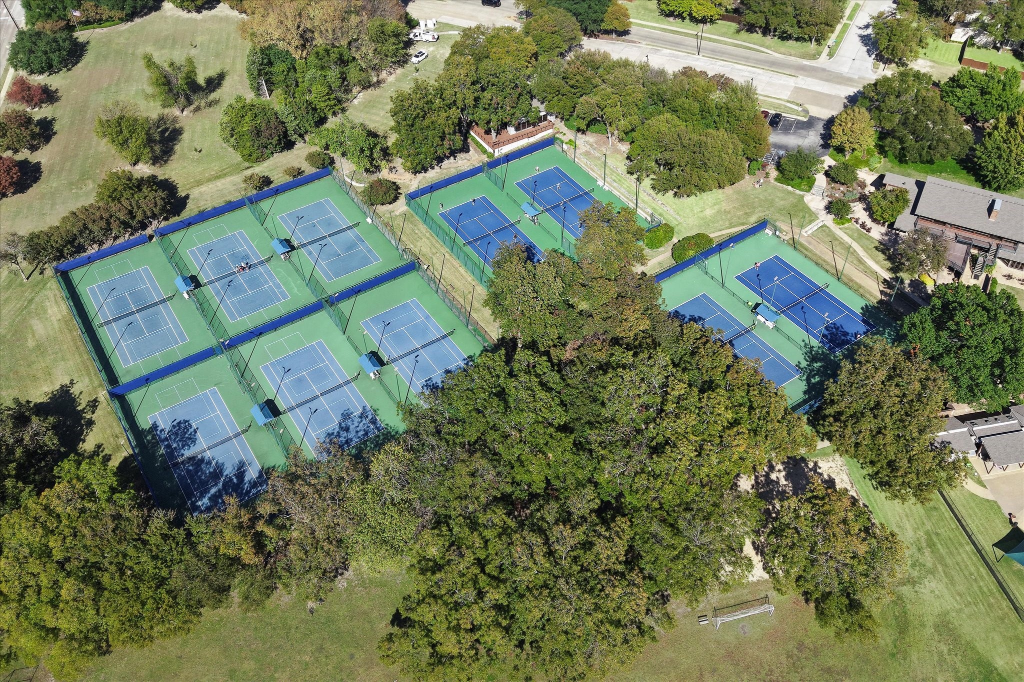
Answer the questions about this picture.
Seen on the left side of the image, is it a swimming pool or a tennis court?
tennis court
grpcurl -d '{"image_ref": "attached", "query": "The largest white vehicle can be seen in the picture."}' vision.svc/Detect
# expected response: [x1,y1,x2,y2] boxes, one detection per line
[411,29,436,42]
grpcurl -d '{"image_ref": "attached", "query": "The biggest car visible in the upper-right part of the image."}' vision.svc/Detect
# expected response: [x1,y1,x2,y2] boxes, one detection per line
[770,113,782,126]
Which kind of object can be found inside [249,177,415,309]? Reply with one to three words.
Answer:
tennis court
